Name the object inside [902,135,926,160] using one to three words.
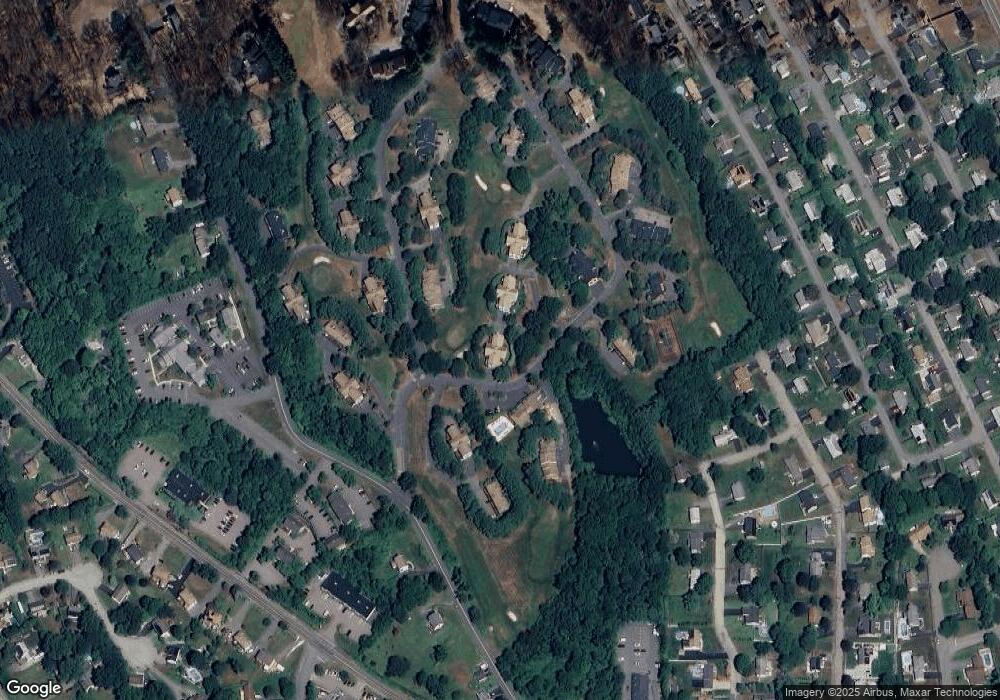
house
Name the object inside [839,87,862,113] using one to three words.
house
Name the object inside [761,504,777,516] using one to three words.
swimming pool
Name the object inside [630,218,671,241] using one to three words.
building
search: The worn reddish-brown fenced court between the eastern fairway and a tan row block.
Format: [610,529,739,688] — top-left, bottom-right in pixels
[647,317,683,362]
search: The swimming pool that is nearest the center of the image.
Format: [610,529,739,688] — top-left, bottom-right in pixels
[487,415,515,441]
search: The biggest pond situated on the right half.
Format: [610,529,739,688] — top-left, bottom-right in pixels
[572,398,640,474]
